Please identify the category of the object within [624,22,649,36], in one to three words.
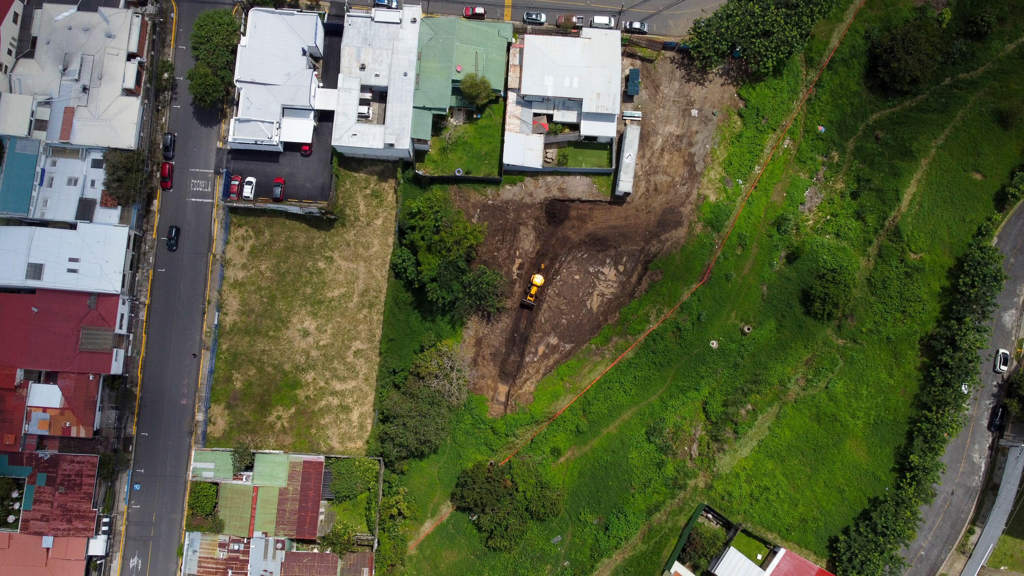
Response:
car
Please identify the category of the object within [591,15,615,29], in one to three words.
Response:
vehicle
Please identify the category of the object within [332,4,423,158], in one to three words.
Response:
building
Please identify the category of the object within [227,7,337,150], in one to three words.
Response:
house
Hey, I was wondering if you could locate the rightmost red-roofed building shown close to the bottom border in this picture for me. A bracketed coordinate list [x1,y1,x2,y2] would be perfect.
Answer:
[763,541,836,576]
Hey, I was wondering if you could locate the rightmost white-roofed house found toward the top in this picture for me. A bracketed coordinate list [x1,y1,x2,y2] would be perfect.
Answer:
[503,28,621,168]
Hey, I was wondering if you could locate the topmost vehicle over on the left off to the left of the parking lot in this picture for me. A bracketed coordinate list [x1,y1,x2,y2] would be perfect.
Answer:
[162,132,178,160]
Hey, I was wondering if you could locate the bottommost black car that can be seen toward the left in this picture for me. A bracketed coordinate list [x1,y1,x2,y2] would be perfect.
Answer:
[166,226,182,250]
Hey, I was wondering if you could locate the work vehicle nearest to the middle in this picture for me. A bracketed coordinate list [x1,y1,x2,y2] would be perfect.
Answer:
[519,261,547,312]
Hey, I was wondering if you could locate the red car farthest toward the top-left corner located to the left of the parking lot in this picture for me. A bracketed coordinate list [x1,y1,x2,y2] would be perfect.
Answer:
[159,162,176,190]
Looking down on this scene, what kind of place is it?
residential area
